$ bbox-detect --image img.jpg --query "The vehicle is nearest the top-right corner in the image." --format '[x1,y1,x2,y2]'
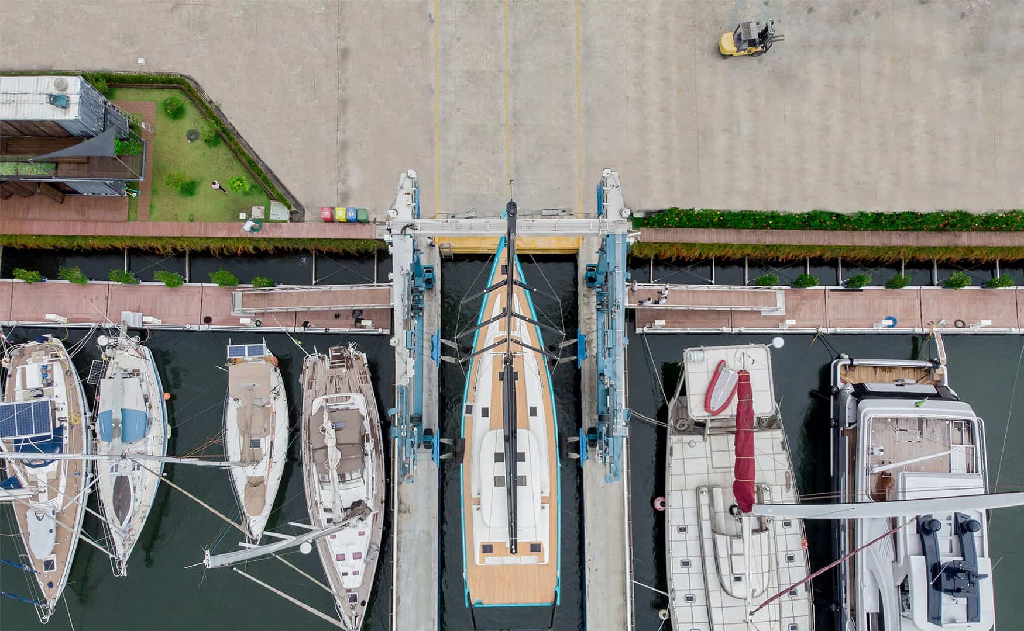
[720,19,788,59]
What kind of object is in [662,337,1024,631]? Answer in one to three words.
boat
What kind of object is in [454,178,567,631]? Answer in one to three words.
boat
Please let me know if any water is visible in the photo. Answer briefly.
Yes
